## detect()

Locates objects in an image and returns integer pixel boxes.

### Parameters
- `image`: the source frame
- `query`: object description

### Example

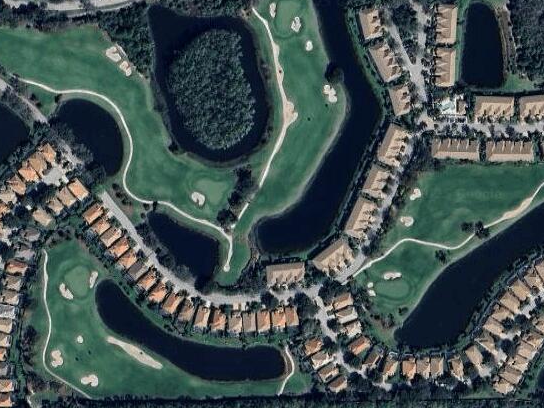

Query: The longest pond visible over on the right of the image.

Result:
[462,1,504,89]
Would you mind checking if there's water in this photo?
Yes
